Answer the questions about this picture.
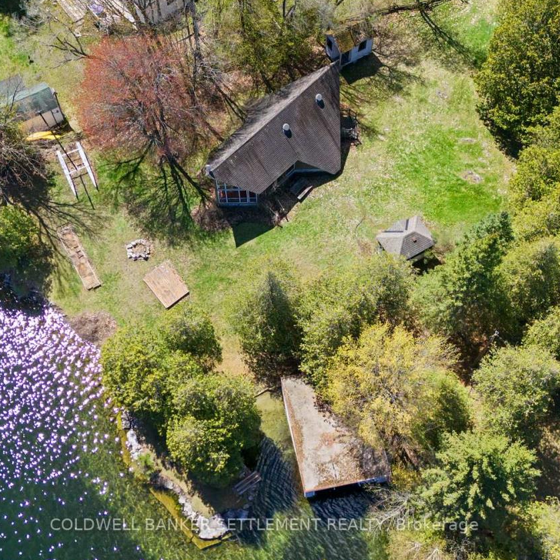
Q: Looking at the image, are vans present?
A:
No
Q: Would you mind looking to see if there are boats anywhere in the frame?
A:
Yes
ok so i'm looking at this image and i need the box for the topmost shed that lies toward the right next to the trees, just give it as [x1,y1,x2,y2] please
[324,16,378,69]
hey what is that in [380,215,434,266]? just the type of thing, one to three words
building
